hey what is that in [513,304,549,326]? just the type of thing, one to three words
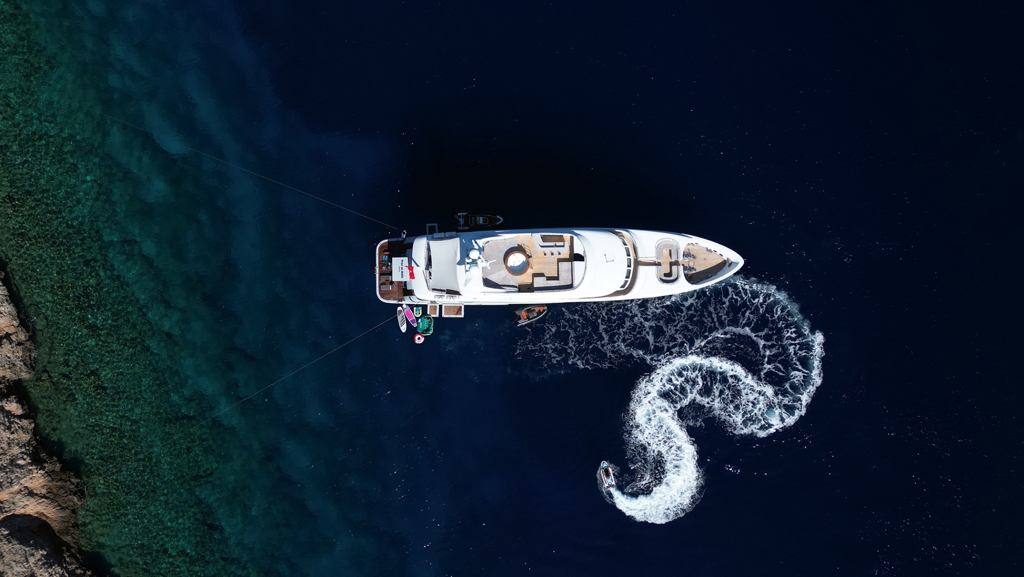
boat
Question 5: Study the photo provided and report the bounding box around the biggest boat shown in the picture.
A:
[371,224,744,317]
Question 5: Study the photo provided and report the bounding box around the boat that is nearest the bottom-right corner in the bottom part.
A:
[601,461,615,489]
